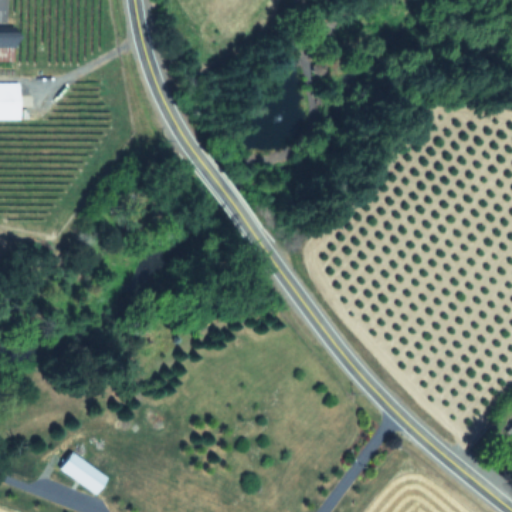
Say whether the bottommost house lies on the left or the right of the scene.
left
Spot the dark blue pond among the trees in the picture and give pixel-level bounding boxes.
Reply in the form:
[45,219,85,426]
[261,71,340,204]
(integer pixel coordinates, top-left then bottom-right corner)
[240,80,306,149]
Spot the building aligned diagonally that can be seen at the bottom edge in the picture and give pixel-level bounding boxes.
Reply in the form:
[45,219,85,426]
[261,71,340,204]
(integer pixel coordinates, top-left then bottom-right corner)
[60,452,108,496]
